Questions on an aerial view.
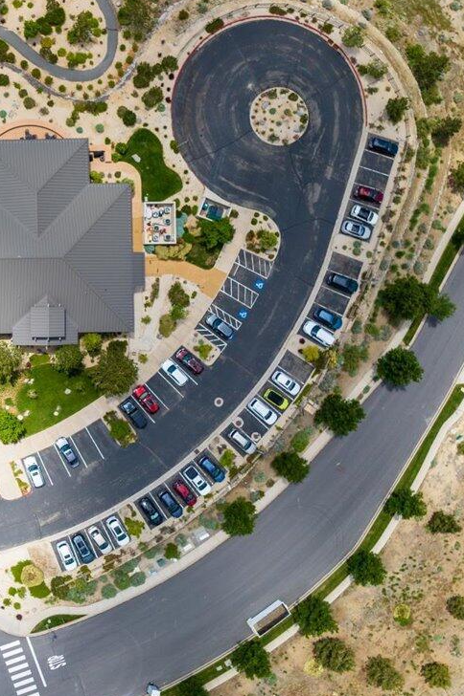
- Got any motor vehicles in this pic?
Yes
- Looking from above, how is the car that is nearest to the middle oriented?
at an angle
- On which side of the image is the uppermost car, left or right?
right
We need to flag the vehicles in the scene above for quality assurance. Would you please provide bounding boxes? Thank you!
[55,436,82,470]
[198,454,227,484]
[22,454,45,491]
[338,219,372,240]
[182,465,211,495]
[270,368,301,397]
[246,396,278,425]
[227,427,257,456]
[88,524,112,556]
[138,495,164,526]
[347,203,381,226]
[72,532,97,566]
[161,358,191,387]
[352,184,383,204]
[325,272,360,295]
[300,320,338,348]
[133,384,160,415]
[171,477,199,509]
[174,347,206,375]
[118,395,149,431]
[202,313,236,341]
[261,386,290,411]
[155,488,184,520]
[55,539,79,573]
[311,306,345,331]
[365,136,400,156]
[106,514,130,549]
